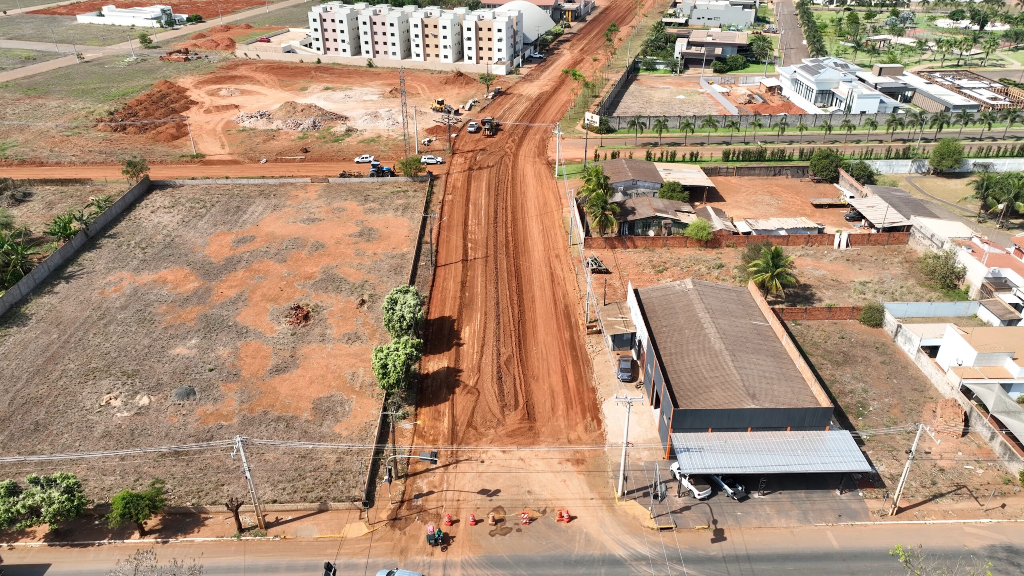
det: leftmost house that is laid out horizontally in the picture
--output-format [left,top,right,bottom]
[77,5,189,30]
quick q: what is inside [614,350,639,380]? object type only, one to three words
car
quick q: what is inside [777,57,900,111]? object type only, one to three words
house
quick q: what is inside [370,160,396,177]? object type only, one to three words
work vehicle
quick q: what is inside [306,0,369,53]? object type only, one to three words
building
